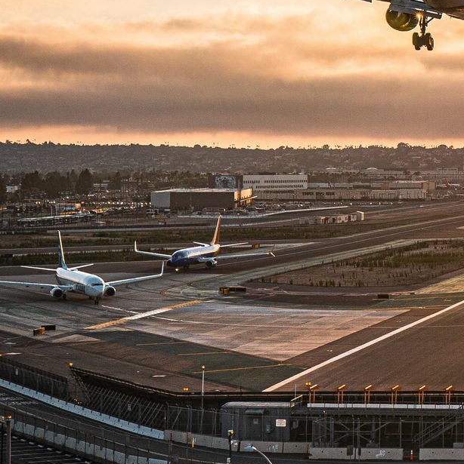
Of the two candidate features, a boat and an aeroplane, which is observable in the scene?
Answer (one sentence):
There is an aeroplane in the scene.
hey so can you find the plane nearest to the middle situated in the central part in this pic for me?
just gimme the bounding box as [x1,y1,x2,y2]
[142,216,274,269]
